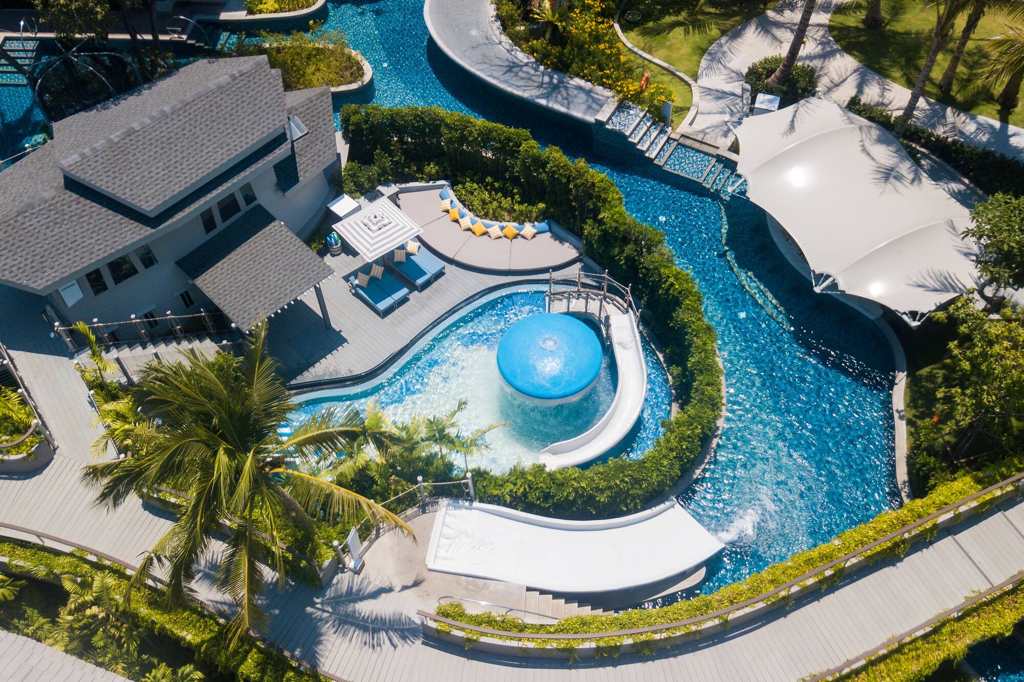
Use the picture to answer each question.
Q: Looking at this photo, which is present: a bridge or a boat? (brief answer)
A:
bridge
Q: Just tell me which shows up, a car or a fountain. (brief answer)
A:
fountain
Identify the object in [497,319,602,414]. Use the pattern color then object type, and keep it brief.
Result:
blue fountain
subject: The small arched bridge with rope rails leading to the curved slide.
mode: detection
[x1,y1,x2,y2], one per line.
[548,288,631,361]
